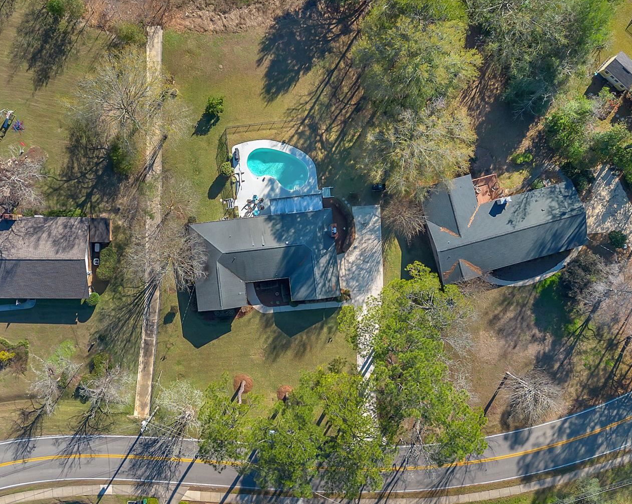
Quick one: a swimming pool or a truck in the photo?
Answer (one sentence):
It is a swimming pool that can be seen here.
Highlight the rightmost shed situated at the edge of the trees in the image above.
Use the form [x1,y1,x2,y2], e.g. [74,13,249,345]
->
[599,52,632,93]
